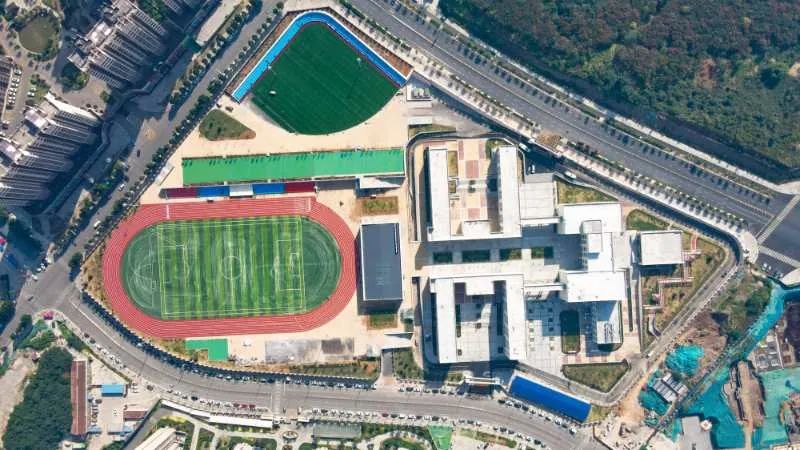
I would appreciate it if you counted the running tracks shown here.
one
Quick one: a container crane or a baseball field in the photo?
baseball field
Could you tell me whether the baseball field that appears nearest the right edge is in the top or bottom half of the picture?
top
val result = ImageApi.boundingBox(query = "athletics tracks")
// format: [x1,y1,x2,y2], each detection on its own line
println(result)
[103,196,357,338]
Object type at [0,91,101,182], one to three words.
building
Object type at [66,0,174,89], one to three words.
building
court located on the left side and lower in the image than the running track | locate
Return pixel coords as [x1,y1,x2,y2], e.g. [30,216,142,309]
[185,339,227,356]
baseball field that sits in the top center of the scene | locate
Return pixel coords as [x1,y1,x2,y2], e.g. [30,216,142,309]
[246,22,398,135]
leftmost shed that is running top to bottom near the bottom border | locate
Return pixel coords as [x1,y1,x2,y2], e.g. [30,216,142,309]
[71,359,92,436]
